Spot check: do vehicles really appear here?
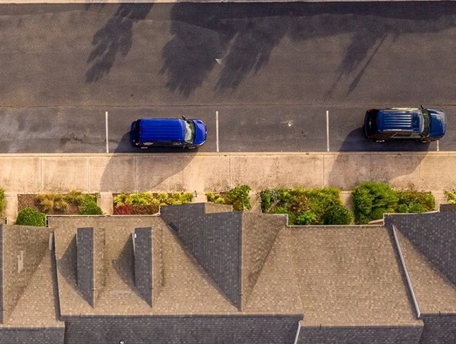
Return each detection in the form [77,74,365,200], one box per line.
[130,114,207,151]
[362,105,446,144]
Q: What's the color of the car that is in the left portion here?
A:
blue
